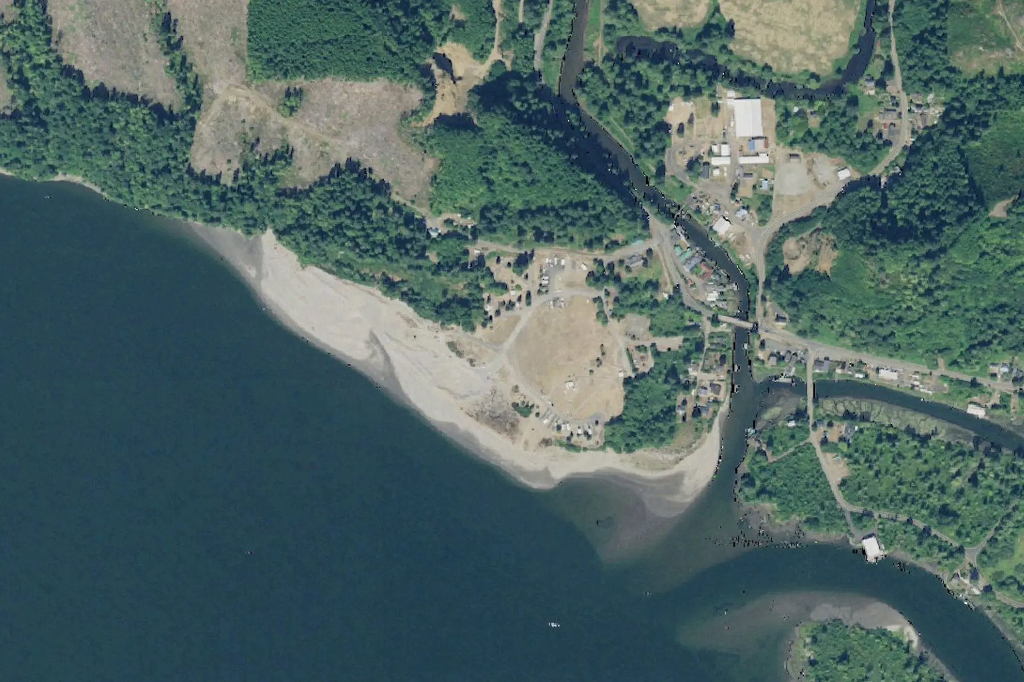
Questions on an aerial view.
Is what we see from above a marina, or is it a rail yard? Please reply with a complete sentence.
This looks like a marina.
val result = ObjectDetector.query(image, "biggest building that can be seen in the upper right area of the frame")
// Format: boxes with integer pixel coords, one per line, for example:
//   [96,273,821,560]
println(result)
[734,98,763,136]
